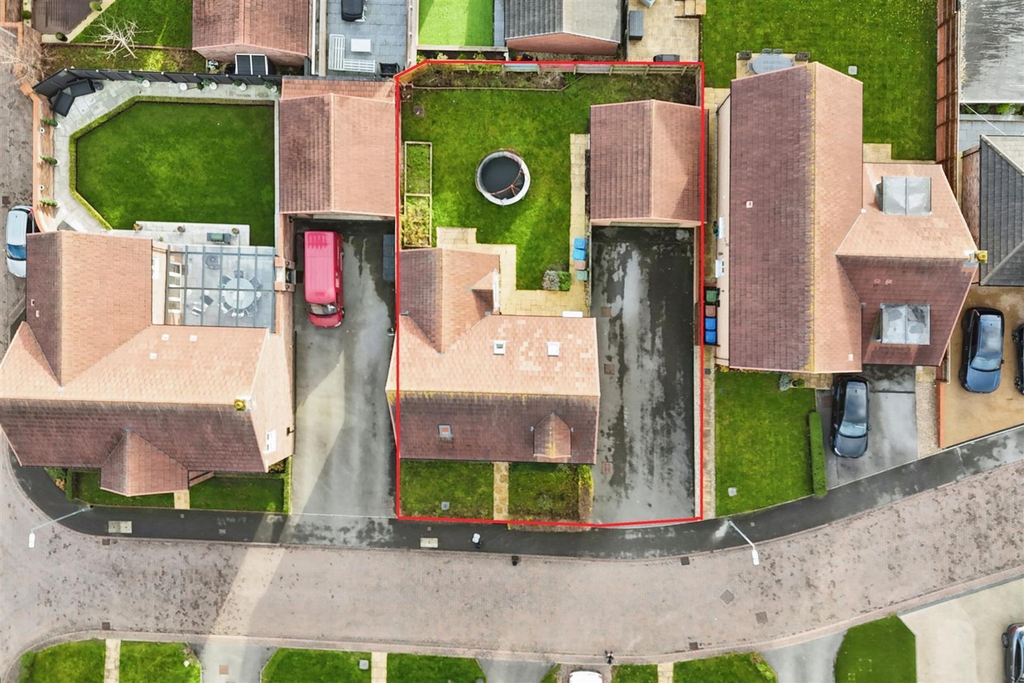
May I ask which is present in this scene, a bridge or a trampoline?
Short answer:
trampoline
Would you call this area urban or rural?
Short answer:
urban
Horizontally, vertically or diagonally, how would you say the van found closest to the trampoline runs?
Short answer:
vertically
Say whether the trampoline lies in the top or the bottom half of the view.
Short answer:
top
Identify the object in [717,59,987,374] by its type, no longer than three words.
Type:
house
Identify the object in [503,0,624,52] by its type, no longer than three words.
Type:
building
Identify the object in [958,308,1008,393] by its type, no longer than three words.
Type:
car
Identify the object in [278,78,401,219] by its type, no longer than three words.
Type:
building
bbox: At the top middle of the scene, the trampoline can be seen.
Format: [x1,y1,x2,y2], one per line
[476,151,529,205]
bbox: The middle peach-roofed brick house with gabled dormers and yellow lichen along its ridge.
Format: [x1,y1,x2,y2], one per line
[386,246,602,463]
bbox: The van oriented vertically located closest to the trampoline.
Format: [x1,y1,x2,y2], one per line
[302,231,347,326]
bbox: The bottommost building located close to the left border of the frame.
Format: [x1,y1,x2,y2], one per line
[0,228,294,498]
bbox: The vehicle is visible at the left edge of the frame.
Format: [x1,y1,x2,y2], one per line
[5,208,48,281]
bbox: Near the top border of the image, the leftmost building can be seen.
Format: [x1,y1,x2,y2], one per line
[191,0,316,63]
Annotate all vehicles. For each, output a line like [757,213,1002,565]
[5,208,48,281]
[958,308,1008,393]
[1011,314,1024,400]
[302,231,347,326]
[829,374,875,459]
[998,620,1024,683]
